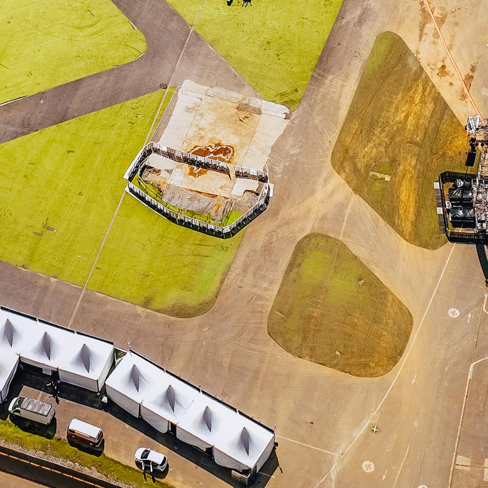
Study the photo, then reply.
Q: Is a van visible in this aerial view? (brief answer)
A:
Yes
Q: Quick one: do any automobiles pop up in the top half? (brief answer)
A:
No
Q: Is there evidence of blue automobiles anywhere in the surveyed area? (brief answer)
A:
No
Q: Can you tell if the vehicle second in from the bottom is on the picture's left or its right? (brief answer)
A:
left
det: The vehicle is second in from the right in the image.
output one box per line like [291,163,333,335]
[65,418,107,449]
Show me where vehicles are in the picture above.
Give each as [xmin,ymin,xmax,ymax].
[65,418,107,449]
[11,398,60,427]
[132,450,172,478]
